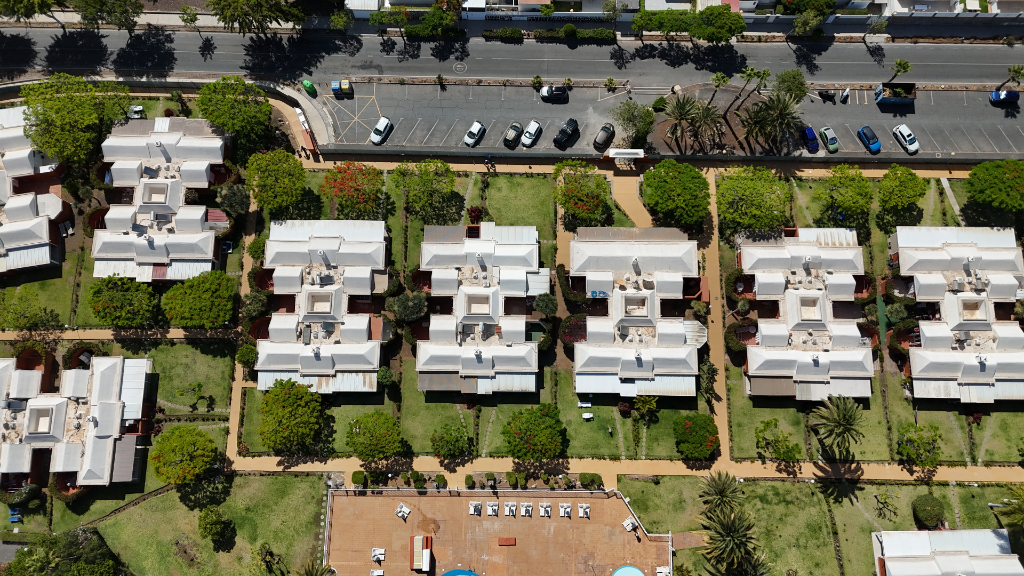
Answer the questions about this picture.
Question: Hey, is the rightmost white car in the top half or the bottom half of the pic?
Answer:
top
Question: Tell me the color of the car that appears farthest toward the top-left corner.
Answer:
white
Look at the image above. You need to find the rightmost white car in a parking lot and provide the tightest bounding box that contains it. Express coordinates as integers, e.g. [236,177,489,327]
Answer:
[894,125,918,153]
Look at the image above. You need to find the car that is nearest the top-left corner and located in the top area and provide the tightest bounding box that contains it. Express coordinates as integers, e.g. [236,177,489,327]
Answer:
[371,116,392,145]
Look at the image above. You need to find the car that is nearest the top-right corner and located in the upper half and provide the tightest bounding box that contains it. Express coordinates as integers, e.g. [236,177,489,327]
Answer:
[988,88,1021,104]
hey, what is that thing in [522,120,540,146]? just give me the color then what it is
white car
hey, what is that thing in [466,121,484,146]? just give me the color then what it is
white car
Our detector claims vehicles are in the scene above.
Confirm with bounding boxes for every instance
[371,116,392,145]
[858,127,879,153]
[540,85,568,100]
[802,128,819,151]
[466,121,484,146]
[988,88,1021,104]
[505,124,522,147]
[594,124,612,149]
[554,115,578,148]
[522,120,540,146]
[819,91,834,98]
[818,128,837,152]
[894,125,918,153]
[842,88,849,102]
